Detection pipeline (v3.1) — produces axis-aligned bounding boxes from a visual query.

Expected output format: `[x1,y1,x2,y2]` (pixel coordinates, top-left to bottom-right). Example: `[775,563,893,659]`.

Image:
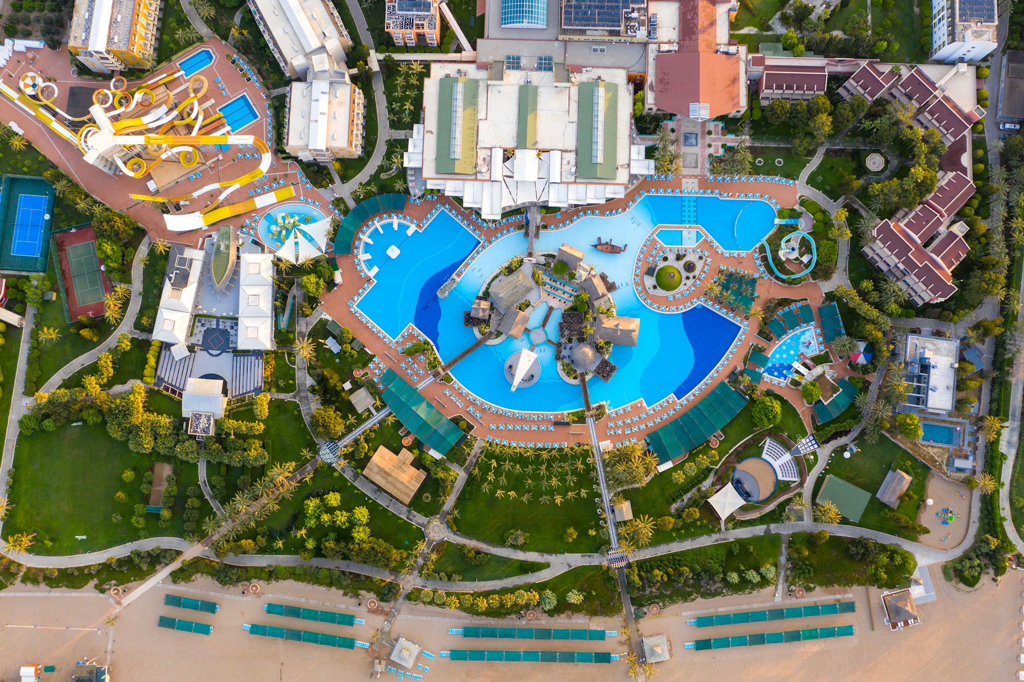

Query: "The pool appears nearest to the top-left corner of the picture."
[177,48,215,79]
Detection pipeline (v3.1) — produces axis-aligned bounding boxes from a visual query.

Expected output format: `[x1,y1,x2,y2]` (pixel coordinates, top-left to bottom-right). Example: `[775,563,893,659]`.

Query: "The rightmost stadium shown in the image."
[732,456,780,504]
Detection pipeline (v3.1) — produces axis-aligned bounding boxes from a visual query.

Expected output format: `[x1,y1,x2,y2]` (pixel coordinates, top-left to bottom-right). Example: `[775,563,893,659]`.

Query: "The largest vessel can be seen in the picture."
[591,236,627,253]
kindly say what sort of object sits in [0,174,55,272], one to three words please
tennis court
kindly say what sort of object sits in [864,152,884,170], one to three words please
gazebo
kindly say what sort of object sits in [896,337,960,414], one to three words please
house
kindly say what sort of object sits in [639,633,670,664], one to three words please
building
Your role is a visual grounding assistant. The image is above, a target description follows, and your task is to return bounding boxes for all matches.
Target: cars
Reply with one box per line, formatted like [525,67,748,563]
[1000,123,1013,129]
[1000,134,1010,139]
